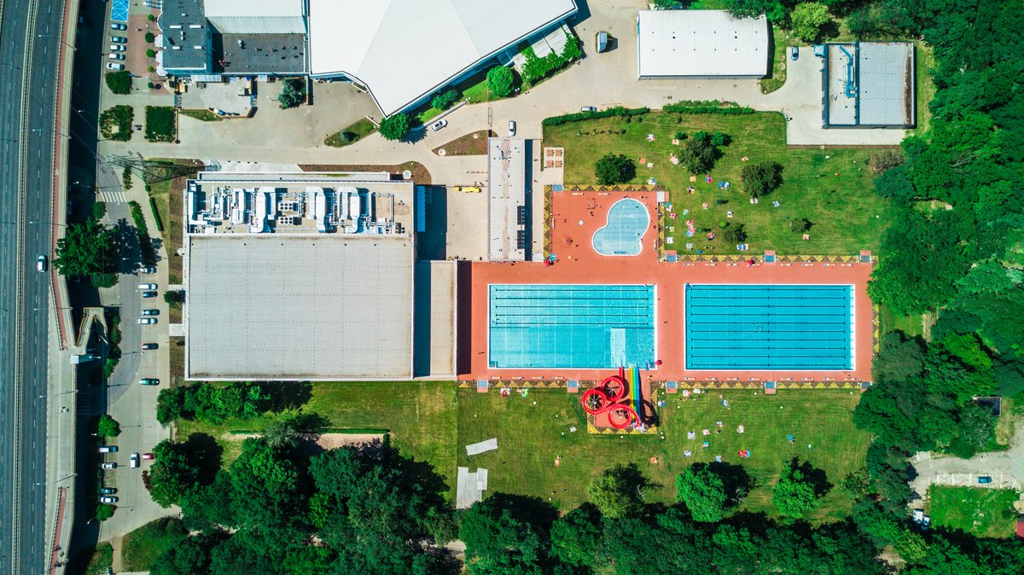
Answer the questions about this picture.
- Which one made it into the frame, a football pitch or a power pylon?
power pylon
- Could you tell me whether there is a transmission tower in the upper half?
Yes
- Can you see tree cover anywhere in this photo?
Yes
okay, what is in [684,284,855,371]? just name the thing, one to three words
swimming pool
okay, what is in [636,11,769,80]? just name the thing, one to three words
building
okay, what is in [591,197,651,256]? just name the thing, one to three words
swimming pool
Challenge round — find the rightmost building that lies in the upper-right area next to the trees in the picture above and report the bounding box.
[819,42,914,129]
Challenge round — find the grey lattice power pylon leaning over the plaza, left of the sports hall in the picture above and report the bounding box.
[90,148,159,186]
